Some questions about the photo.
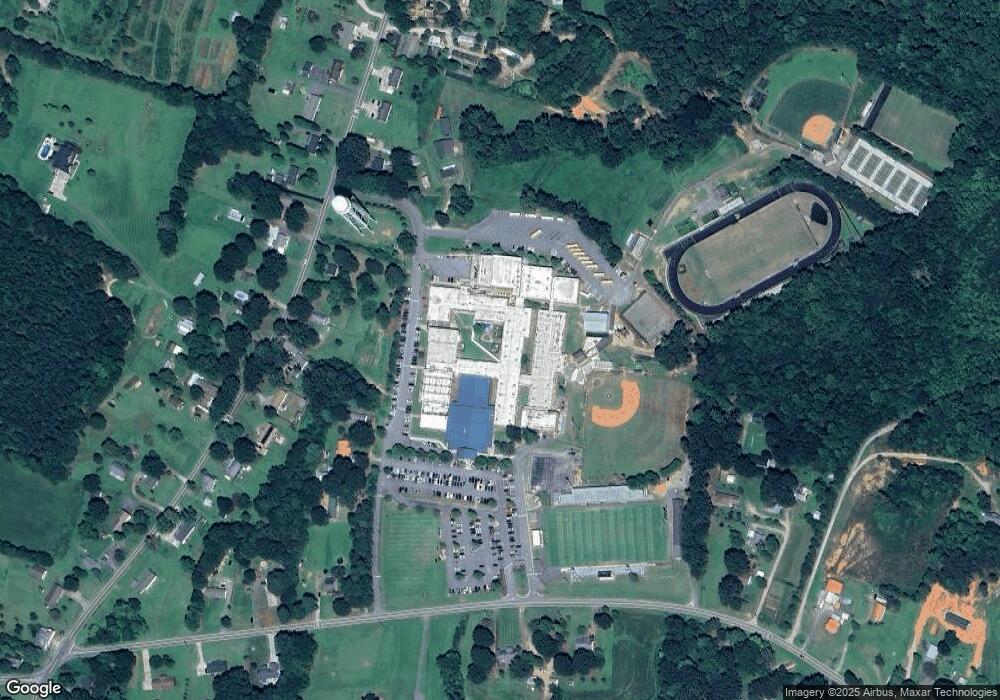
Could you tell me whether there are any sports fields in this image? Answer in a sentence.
Yes, a sports field is visible in the scene.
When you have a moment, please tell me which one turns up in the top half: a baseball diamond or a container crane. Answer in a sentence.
The feature located in the top half is a baseball diamond.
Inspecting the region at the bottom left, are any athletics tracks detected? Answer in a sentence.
No, there's no athletics track to be seen at the bottom left.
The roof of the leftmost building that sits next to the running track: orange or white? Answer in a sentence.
From above, the roof of the leftmost building that sits next to the running track appears white.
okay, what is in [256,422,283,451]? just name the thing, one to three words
house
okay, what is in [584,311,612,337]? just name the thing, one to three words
building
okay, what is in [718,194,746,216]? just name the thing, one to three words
house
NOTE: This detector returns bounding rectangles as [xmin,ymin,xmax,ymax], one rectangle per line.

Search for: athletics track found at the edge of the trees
[663,182,842,316]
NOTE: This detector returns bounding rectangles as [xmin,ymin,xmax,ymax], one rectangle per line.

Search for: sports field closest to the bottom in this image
[544,504,669,567]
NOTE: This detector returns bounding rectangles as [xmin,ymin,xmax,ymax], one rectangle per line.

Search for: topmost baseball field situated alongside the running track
[757,51,857,148]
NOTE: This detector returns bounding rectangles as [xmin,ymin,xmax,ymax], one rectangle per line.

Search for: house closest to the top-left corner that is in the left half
[55,143,81,172]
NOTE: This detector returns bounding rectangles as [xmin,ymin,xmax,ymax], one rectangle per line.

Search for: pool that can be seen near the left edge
[37,137,56,161]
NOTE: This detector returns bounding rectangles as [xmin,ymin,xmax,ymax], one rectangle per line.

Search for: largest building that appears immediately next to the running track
[420,255,582,461]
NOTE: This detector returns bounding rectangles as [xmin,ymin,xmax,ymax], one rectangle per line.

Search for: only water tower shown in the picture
[333,196,377,236]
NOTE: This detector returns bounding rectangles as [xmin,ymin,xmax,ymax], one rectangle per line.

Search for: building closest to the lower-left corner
[35,626,58,649]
